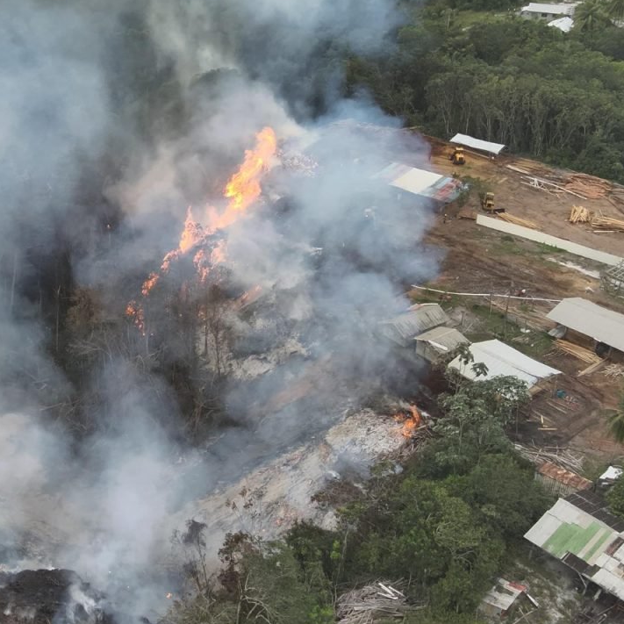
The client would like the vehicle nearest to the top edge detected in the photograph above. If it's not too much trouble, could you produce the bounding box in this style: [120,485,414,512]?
[449,146,472,164]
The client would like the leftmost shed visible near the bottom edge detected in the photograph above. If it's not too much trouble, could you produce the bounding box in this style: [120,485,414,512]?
[476,579,541,619]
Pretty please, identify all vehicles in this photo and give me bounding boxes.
[479,192,503,217]
[449,146,472,164]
